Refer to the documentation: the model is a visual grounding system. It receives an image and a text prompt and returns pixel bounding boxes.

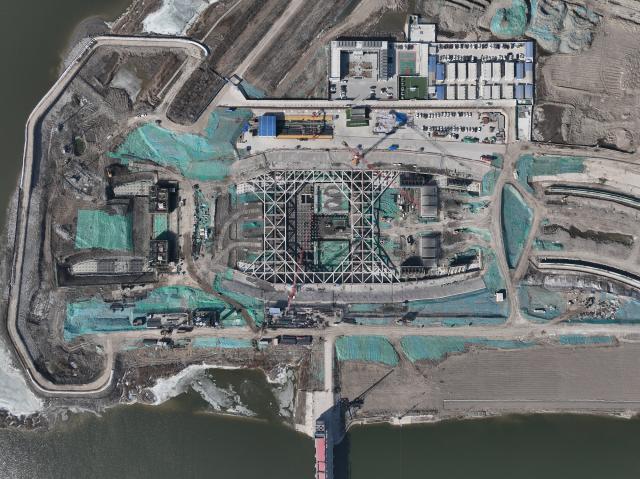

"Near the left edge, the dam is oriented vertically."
[3,32,213,398]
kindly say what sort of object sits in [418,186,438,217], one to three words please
building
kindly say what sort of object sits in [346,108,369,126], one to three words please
shed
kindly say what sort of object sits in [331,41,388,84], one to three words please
building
